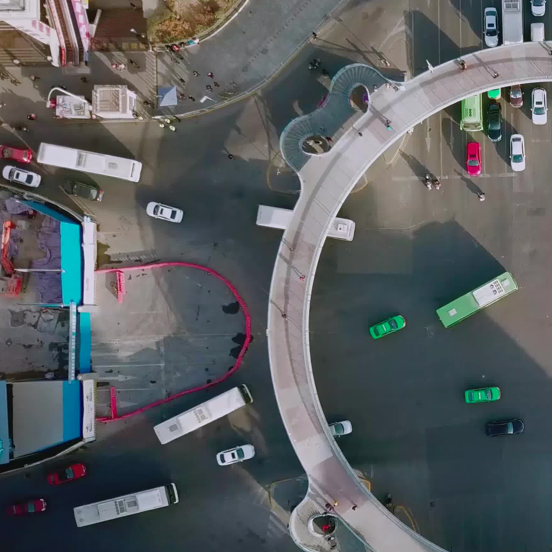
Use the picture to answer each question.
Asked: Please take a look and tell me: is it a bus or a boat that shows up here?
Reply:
bus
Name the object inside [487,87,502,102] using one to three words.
car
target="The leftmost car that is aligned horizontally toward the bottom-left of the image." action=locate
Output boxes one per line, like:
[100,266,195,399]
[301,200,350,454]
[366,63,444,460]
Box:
[9,496,47,514]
